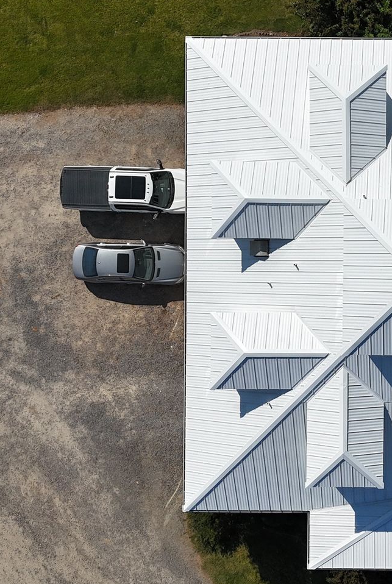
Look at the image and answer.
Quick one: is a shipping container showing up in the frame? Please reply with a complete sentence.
No, there's no shipping container here.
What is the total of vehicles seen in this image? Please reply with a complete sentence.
Altogether the scene contains 2 vehicles.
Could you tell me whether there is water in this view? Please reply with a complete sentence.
No, there's no water in this view.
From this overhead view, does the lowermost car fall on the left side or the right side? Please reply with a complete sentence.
The lowermost car sits on the left side.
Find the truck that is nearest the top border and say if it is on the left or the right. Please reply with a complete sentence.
The truck that is nearest the top border is on the left side of the image.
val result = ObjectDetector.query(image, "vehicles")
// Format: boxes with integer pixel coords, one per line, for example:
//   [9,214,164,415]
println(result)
[58,155,186,221]
[73,240,185,287]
